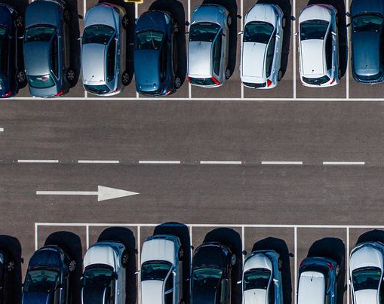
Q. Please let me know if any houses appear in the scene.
No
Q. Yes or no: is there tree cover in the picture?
No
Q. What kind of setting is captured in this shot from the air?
parking lot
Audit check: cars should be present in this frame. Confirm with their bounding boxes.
[0,4,25,98]
[130,11,180,95]
[237,249,285,304]
[133,233,186,304]
[74,4,128,95]
[180,5,232,87]
[236,4,286,90]
[344,0,384,84]
[75,240,130,304]
[19,244,74,304]
[19,0,75,98]
[292,4,342,87]
[185,240,236,304]
[345,240,384,304]
[298,257,339,304]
